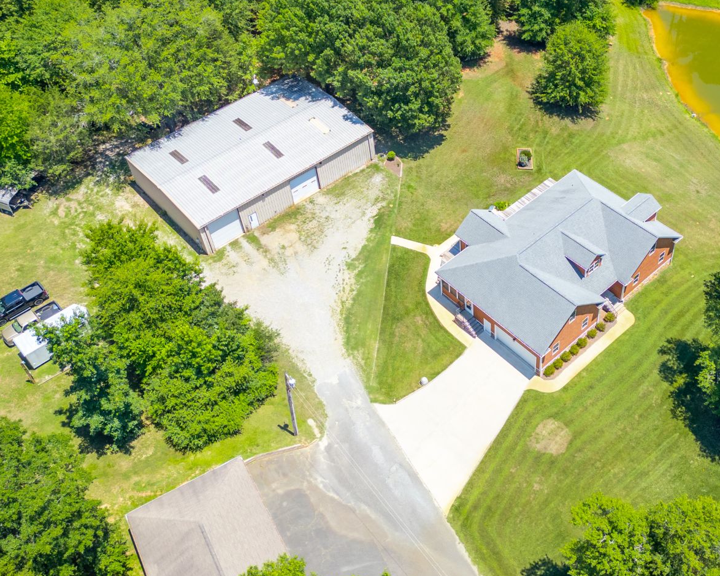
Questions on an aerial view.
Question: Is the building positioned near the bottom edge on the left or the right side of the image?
left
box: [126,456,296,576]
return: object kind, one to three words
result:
building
